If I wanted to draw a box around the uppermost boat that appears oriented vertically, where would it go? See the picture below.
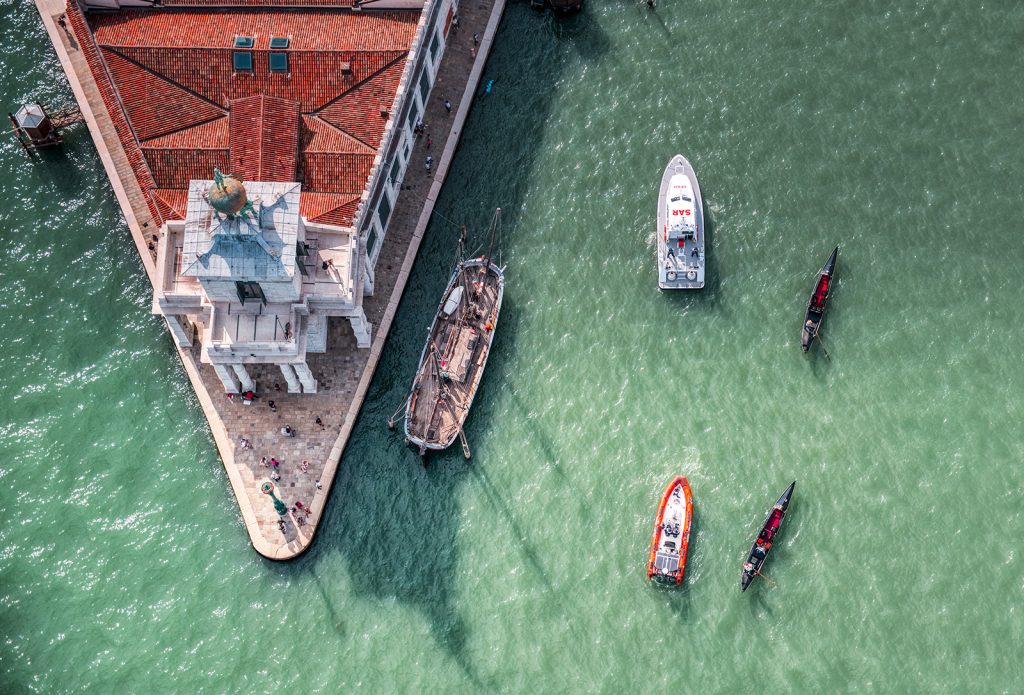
[657,152,705,294]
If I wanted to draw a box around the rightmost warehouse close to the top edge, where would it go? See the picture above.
[66,0,461,259]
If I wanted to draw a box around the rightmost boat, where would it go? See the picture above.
[802,240,838,353]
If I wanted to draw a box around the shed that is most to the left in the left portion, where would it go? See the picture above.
[0,104,62,152]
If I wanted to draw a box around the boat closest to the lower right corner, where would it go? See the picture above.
[742,478,796,592]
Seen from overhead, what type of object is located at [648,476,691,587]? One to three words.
boat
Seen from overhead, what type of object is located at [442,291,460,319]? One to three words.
boat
